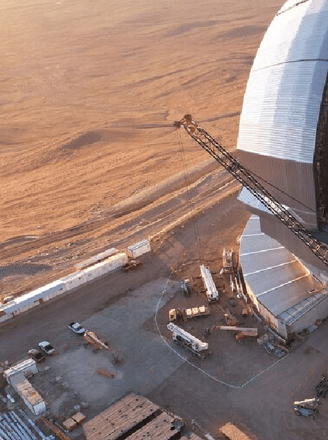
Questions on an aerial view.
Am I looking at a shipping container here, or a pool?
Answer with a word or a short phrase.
shipping container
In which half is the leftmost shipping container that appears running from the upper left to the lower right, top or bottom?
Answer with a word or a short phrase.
bottom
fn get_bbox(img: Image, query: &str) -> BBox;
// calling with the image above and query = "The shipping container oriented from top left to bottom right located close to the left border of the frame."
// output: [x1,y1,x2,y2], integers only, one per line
[5,364,51,414]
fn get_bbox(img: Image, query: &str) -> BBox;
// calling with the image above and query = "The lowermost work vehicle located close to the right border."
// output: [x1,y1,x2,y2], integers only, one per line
[276,397,318,418]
